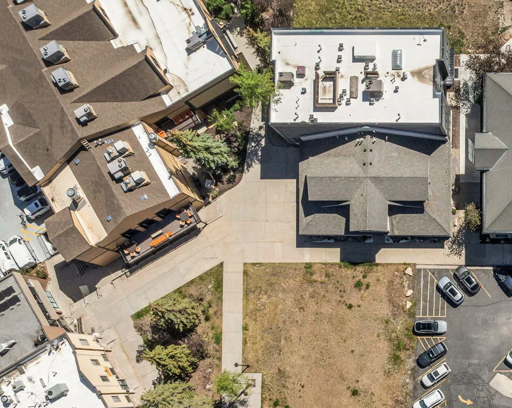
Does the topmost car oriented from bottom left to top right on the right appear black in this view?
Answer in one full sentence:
Yes, the topmost car oriented from bottom left to top right on the right is indeed black.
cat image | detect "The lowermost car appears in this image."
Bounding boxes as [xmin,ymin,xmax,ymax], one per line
[413,390,445,408]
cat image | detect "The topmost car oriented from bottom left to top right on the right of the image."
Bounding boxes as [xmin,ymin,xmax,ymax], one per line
[416,342,449,368]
